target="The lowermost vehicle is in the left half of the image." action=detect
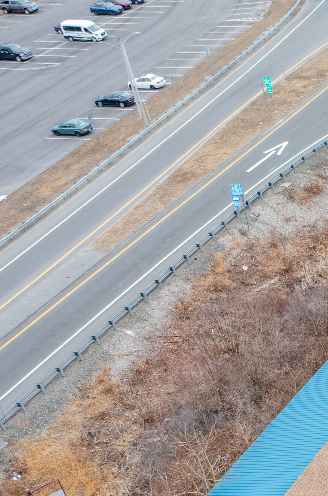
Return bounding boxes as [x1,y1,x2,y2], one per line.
[50,119,91,136]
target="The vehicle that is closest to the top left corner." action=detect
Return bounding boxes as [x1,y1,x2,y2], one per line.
[0,0,38,13]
